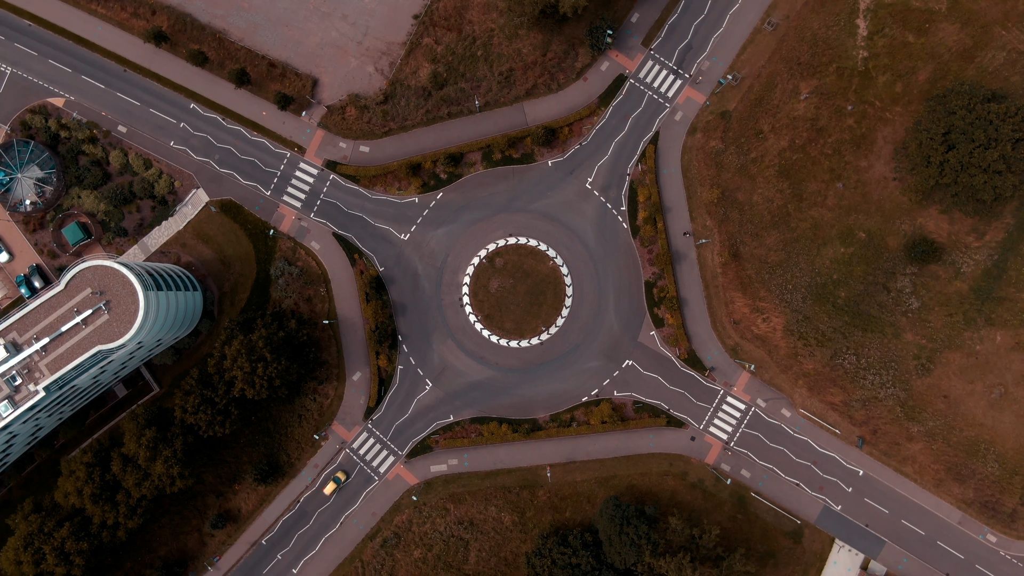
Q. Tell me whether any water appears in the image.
No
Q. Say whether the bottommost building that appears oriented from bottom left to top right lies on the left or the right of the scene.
left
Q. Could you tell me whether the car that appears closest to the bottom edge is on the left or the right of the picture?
left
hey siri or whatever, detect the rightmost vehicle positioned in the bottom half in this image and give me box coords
[322,469,348,497]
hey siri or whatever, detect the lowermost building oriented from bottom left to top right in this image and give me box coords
[0,253,203,473]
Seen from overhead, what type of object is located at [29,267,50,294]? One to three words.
car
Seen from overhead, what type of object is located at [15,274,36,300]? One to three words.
car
